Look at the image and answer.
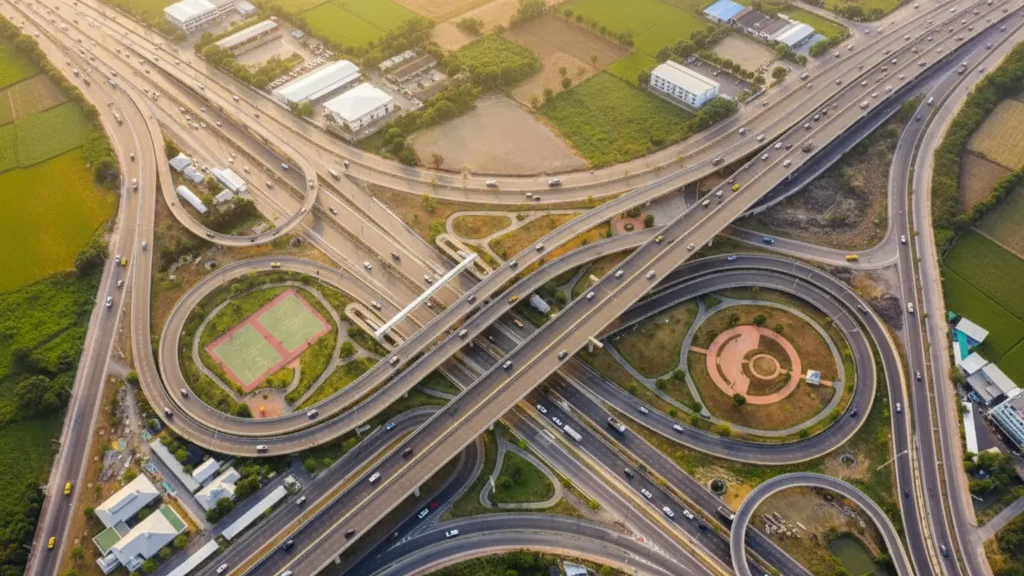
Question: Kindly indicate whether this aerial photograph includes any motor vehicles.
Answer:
Yes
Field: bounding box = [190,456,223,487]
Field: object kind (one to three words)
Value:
house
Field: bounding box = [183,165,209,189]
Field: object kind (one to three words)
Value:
shed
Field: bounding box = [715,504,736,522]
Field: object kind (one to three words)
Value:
vehicle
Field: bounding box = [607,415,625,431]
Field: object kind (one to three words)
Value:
vehicle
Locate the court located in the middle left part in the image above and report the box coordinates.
[205,288,332,392]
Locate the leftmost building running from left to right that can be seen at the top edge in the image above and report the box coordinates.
[167,0,235,33]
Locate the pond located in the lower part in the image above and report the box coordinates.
[830,532,884,576]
